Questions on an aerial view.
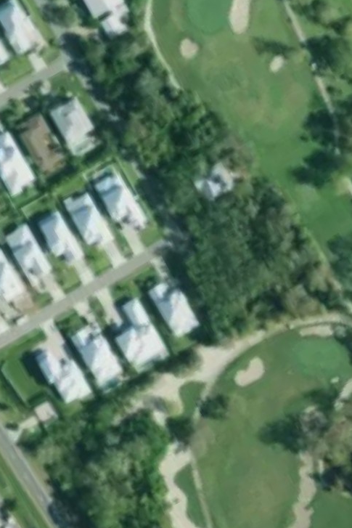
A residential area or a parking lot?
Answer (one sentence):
What you see here is a residential area.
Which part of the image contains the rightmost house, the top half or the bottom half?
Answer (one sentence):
It is in the top half that the rightmost house appears.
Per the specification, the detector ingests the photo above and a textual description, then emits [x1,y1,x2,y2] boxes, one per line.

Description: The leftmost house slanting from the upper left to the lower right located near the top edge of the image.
[0,0,44,58]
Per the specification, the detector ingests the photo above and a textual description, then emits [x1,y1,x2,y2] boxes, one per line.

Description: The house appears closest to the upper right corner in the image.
[193,162,235,198]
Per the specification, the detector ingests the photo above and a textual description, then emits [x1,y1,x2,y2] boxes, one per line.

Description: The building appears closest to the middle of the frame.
[149,283,195,338]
